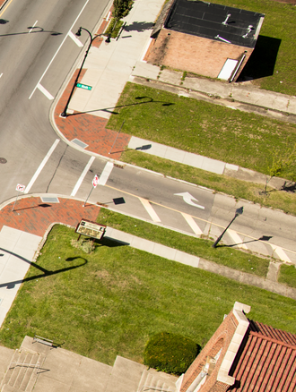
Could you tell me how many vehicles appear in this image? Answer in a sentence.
I count no vehicles.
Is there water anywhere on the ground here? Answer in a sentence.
No, the scene doesn't show any water.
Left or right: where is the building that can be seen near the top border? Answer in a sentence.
The building that can be seen near the top border appears in the right half of the scene.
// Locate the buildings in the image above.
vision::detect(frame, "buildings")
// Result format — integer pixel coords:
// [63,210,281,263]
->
[146,2,260,81]
[175,301,296,392]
